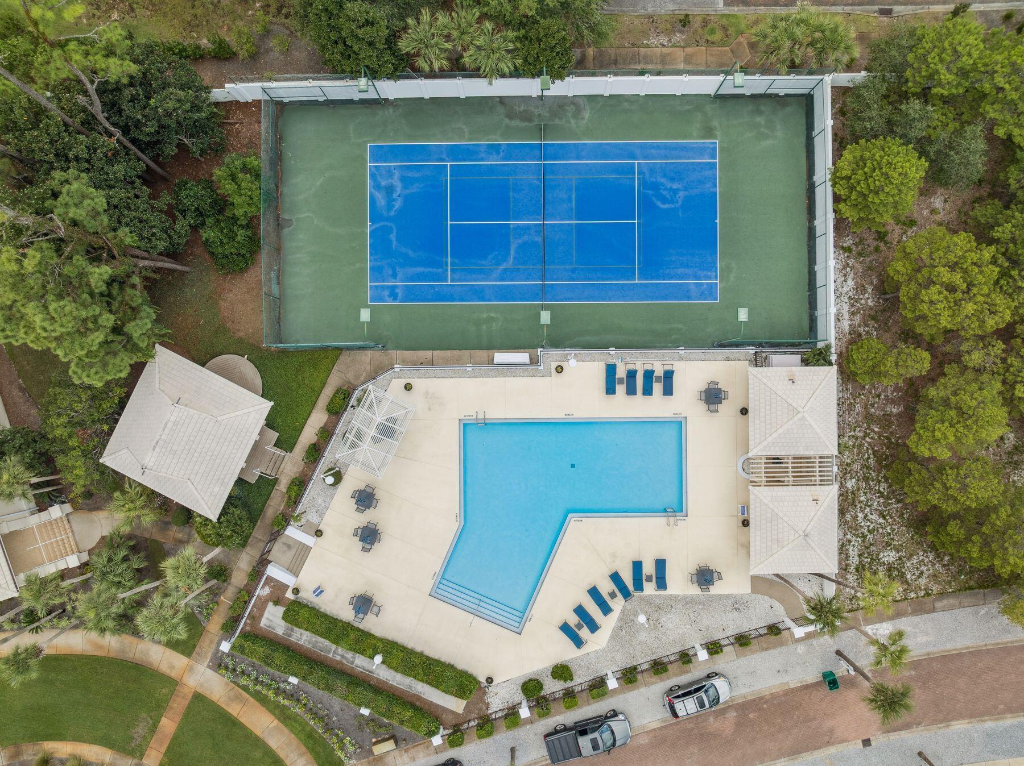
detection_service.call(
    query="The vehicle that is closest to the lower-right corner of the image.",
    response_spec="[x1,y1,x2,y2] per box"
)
[662,674,736,722]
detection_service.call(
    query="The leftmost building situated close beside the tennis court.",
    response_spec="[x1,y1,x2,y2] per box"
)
[99,343,274,522]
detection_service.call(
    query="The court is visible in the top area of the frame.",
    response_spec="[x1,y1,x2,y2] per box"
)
[273,92,818,349]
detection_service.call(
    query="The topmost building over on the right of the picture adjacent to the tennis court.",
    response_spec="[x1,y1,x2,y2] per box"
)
[747,365,839,459]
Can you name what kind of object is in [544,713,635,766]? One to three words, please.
truck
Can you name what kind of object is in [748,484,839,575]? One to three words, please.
building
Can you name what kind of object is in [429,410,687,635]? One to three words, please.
swimming pool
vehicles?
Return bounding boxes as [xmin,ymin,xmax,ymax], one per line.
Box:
[438,761,462,766]
[662,674,736,722]
[544,713,635,766]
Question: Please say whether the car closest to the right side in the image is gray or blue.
gray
